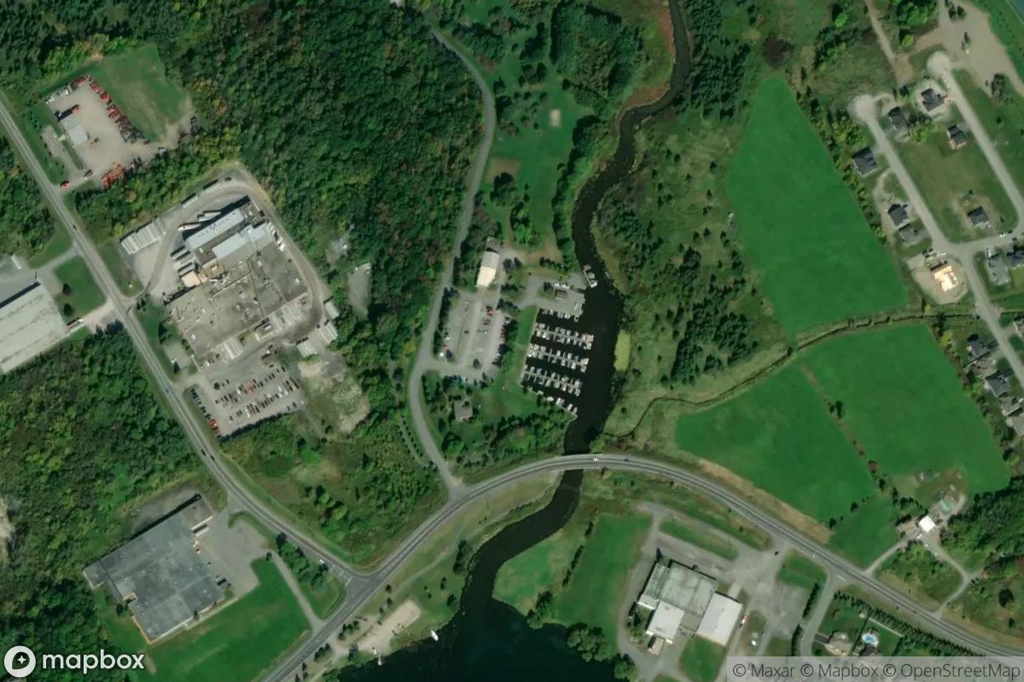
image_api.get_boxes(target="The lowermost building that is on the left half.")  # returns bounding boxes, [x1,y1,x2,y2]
[84,496,223,643]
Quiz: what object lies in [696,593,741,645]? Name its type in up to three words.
building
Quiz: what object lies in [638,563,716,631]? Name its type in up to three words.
building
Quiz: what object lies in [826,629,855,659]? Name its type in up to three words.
house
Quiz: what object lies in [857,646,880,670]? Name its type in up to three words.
house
